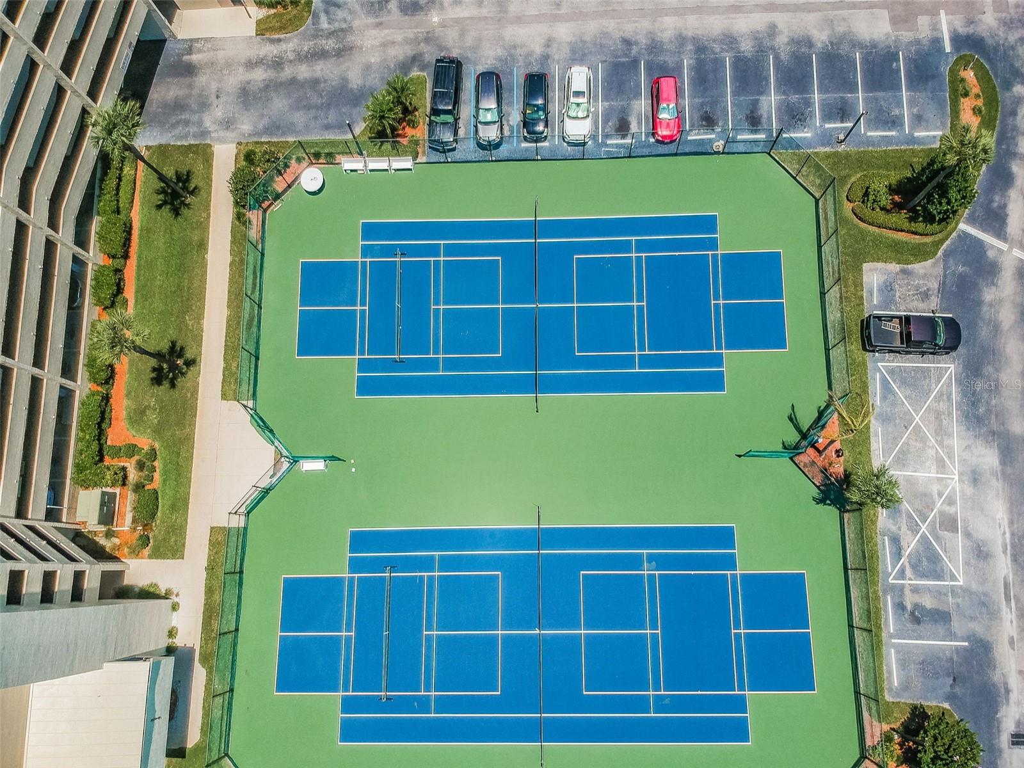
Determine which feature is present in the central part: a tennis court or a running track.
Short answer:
tennis court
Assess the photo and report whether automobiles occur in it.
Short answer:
Yes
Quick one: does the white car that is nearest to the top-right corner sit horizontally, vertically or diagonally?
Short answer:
vertically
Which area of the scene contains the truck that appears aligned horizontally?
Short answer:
right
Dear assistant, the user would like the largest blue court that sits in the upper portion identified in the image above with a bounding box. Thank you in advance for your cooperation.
[354,213,728,399]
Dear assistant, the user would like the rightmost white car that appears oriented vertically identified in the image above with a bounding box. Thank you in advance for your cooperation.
[560,66,597,148]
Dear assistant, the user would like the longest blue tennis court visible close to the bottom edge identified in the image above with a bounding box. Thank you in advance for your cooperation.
[339,526,751,744]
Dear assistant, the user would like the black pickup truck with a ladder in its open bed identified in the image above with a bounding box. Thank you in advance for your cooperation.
[858,310,963,354]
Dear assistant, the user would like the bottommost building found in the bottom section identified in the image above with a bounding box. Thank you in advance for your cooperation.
[0,651,179,768]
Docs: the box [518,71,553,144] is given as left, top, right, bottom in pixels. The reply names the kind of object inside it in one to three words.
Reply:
car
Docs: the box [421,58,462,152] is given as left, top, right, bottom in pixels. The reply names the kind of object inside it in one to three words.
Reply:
car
